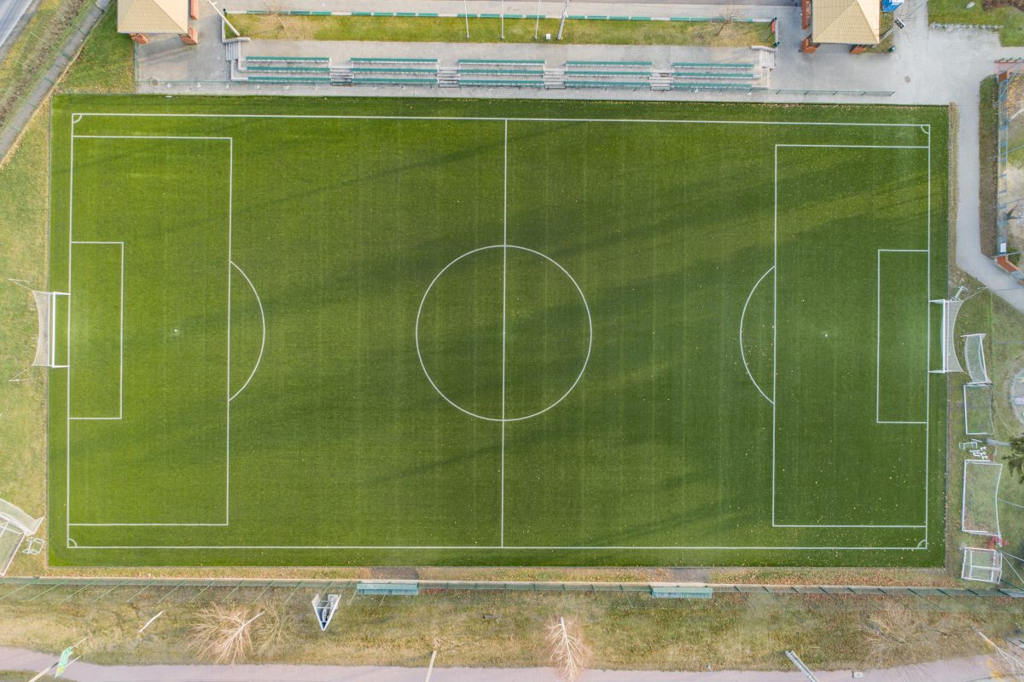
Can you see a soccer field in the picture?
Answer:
Yes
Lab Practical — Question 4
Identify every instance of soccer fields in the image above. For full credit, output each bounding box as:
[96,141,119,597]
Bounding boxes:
[48,93,950,568]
